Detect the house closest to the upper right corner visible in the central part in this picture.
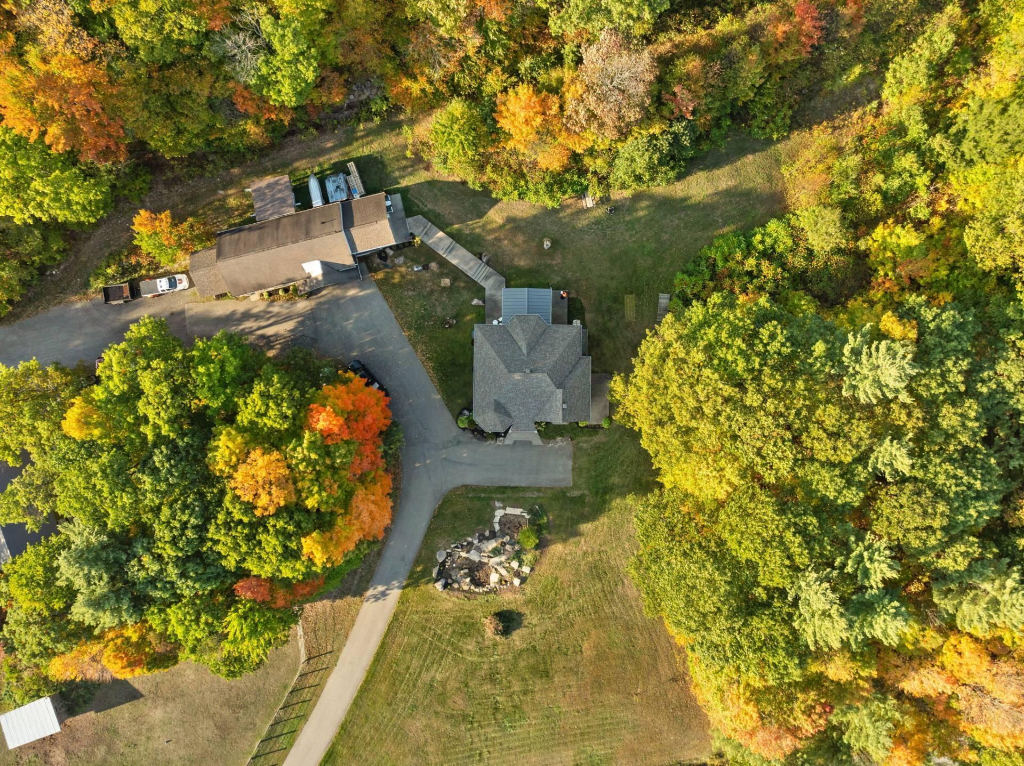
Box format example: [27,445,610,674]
[470,314,592,433]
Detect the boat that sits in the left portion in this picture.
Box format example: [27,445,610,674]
[307,173,326,208]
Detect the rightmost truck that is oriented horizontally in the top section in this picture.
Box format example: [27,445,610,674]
[140,274,191,298]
